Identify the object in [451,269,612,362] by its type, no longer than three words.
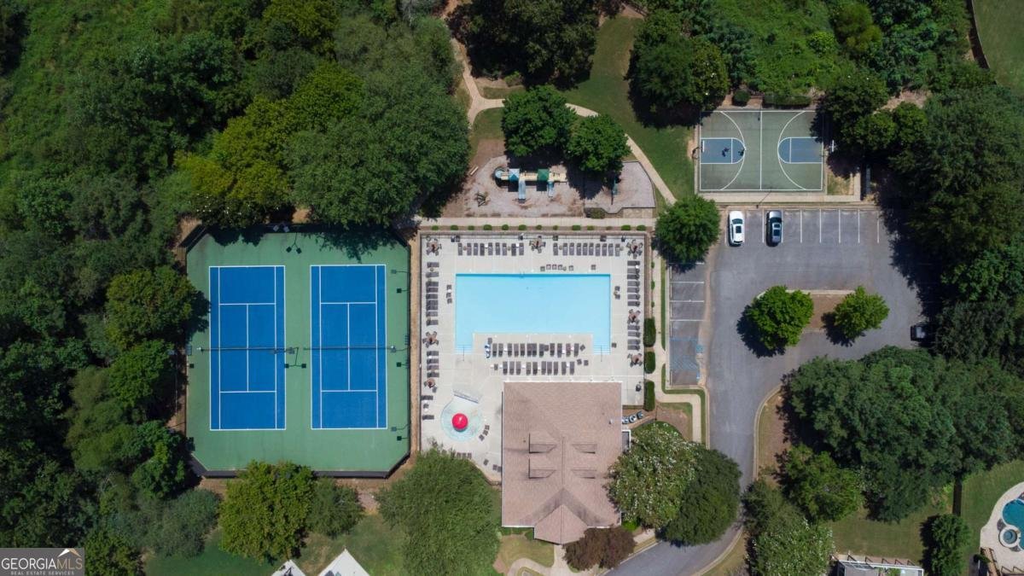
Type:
swimming pool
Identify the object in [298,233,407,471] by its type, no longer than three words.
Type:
tennis court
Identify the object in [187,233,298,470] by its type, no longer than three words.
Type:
tennis court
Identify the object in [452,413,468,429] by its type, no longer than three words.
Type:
fountain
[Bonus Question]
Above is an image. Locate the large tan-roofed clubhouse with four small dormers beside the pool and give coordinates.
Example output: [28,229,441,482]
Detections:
[502,376,632,545]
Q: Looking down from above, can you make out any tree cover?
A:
Yes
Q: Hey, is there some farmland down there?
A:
No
